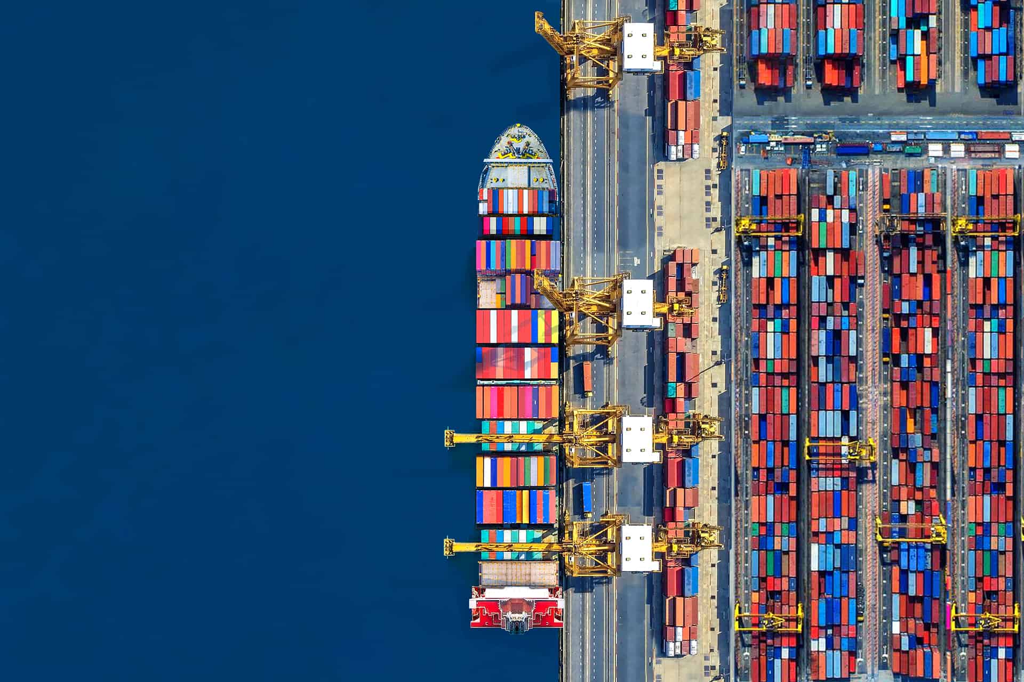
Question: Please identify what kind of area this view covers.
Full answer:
The picture captures a port.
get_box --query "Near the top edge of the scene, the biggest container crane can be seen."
[536,10,722,96]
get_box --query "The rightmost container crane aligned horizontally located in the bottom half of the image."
[942,604,1020,631]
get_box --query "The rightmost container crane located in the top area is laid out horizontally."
[942,214,1020,241]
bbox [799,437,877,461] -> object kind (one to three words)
container crane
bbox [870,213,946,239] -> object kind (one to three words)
container crane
